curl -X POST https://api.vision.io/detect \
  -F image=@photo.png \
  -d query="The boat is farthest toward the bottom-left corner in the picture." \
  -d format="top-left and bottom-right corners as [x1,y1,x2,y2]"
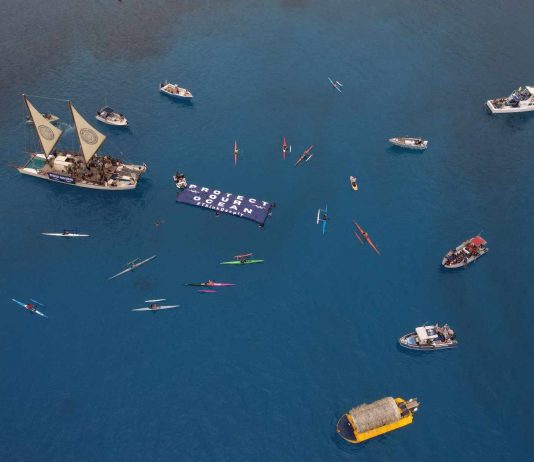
[11,298,46,318]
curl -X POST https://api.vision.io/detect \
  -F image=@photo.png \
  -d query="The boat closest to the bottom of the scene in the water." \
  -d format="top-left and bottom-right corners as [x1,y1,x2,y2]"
[337,399,424,443]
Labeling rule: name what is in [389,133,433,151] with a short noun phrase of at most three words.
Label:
boat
